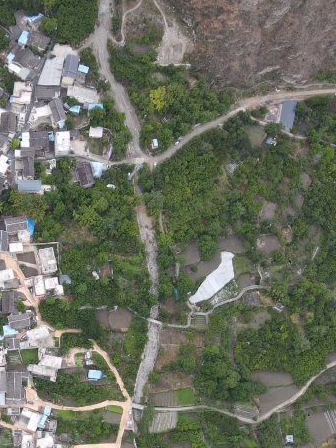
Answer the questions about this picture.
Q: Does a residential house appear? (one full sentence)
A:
Yes, a residential house is visible in the scene.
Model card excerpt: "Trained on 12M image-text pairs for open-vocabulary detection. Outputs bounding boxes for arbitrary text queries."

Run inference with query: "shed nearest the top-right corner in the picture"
[275,100,298,133]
